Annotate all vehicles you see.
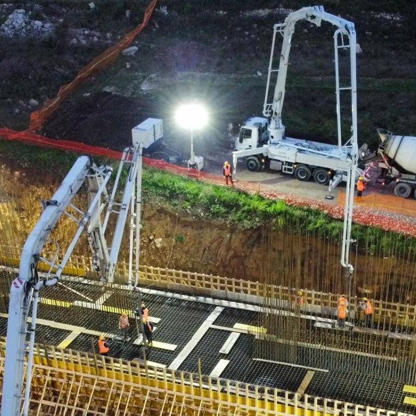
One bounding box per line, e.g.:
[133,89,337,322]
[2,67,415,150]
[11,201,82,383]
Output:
[2,142,148,416]
[230,5,365,321]
[366,126,416,196]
